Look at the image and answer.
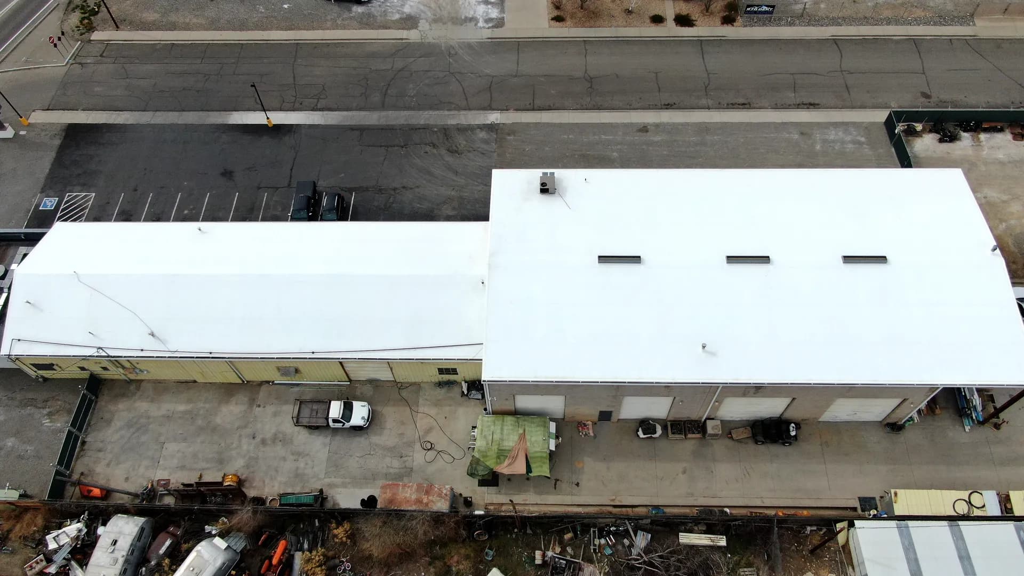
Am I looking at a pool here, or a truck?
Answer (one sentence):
The one in the frame is a truck.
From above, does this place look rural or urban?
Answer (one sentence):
From above, the setting appears urban.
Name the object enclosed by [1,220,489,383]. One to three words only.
building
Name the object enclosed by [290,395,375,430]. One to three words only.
truck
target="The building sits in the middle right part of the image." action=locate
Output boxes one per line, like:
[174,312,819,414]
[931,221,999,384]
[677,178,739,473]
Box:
[481,168,1024,428]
